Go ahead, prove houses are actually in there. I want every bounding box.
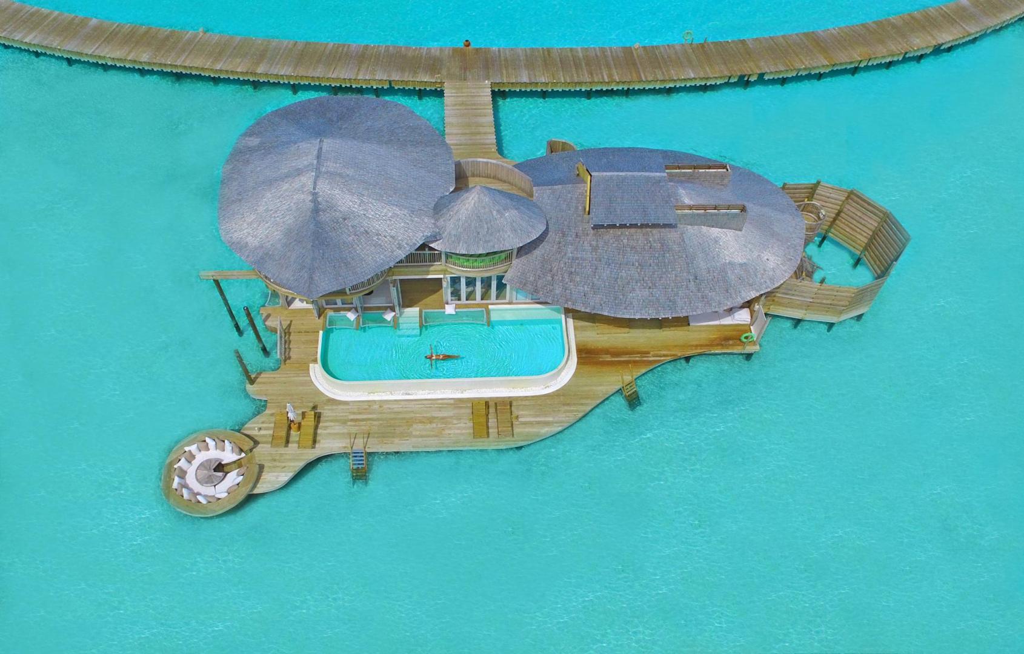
[218,94,806,320]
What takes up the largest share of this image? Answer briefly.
water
